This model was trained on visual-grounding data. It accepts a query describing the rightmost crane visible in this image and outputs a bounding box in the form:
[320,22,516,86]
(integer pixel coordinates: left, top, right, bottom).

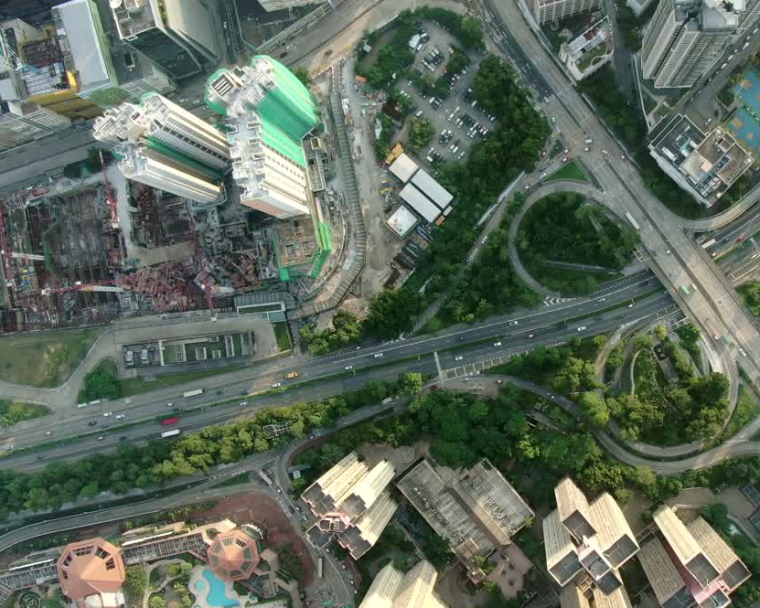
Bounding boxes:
[191,216,233,322]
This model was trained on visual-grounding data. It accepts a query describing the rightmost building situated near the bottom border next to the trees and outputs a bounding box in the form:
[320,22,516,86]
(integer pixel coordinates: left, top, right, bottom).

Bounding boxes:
[640,510,751,608]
